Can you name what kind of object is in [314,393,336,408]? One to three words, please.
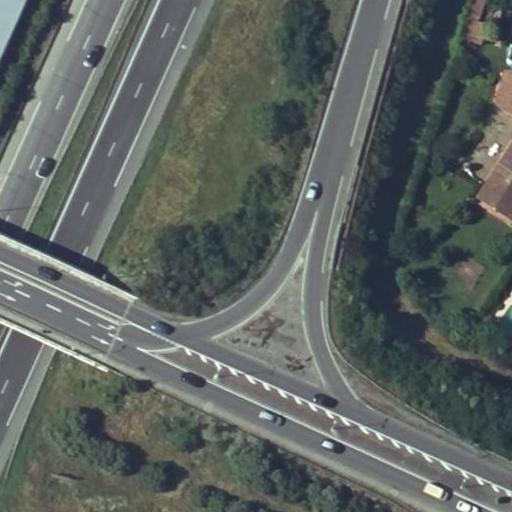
car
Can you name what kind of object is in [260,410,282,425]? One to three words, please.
car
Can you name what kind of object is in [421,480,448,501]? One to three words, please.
vehicle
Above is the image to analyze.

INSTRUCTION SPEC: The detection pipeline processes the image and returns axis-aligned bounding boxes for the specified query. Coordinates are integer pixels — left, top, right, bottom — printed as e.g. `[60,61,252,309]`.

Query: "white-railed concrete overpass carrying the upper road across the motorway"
[0,236,138,377]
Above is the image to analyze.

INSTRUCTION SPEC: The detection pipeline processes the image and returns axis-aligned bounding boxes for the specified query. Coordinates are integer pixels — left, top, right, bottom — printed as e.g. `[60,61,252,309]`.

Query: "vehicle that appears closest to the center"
[306,180,320,201]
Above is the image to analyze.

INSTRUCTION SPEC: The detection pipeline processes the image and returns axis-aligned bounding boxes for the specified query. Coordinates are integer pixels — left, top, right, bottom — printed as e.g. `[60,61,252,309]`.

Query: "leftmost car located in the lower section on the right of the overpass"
[152,320,173,336]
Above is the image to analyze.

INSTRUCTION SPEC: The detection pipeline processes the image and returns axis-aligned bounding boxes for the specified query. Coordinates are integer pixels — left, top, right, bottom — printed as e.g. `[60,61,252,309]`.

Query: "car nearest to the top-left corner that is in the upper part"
[86,46,100,66]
